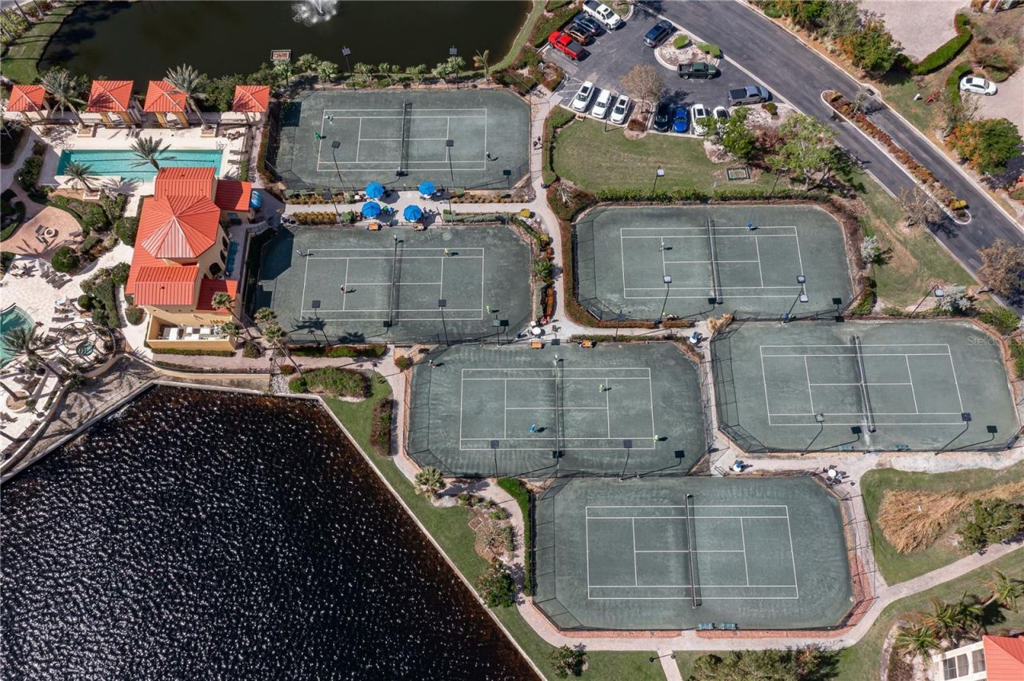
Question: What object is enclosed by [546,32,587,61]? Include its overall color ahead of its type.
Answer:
red truck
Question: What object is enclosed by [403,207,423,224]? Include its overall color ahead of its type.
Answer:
blue umbrella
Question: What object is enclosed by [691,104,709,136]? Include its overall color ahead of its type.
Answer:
white car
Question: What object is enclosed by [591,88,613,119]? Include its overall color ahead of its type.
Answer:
white car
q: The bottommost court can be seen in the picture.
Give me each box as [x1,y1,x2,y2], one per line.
[532,477,853,630]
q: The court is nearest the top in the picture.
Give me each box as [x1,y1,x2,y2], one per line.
[274,87,532,190]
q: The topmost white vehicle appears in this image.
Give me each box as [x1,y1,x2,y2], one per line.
[582,0,622,31]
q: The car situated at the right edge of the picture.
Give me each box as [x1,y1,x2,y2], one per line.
[960,76,997,97]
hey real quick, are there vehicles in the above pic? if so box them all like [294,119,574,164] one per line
[642,21,675,47]
[546,32,587,61]
[572,81,593,112]
[675,61,719,79]
[609,94,630,126]
[673,105,689,134]
[960,76,997,97]
[653,103,669,135]
[691,104,709,136]
[582,0,622,31]
[725,86,771,106]
[561,23,594,46]
[591,88,613,119]
[571,14,606,37]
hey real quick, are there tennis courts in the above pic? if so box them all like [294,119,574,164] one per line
[274,87,532,190]
[406,342,708,479]
[532,477,853,630]
[710,320,1021,454]
[254,224,531,344]
[574,204,855,321]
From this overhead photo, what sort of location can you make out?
sports ground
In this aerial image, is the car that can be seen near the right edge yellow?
No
